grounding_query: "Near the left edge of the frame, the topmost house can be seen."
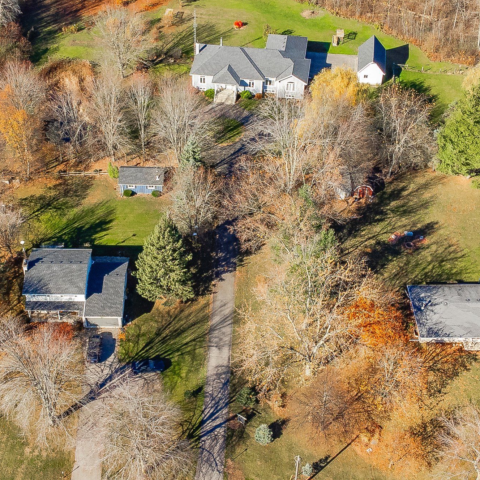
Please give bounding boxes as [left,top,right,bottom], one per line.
[17,247,130,328]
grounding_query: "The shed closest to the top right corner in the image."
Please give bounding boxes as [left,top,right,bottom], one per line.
[358,37,385,85]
